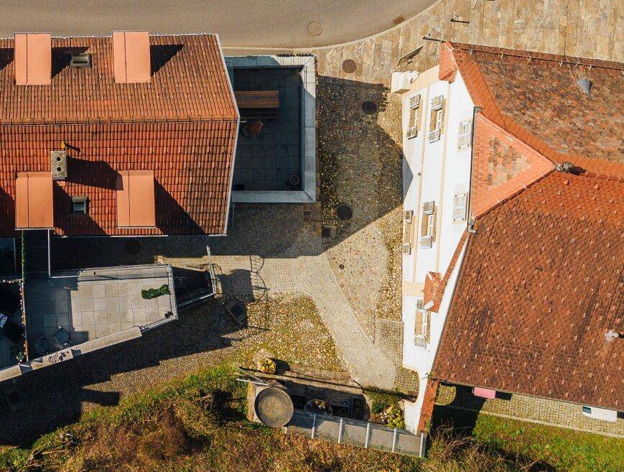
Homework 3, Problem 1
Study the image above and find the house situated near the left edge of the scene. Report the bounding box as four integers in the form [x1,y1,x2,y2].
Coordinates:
[0,30,241,239]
